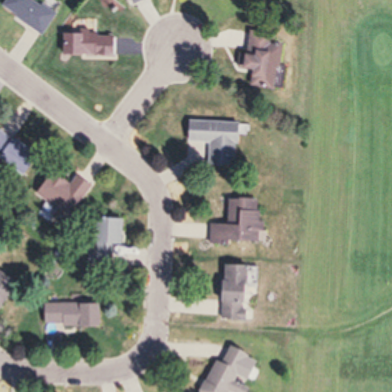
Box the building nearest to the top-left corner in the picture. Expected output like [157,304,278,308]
[2,0,55,34]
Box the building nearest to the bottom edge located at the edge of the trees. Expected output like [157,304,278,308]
[200,346,259,392]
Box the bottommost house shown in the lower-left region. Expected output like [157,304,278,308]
[44,302,101,328]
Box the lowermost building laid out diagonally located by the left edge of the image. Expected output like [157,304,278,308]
[0,127,34,170]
